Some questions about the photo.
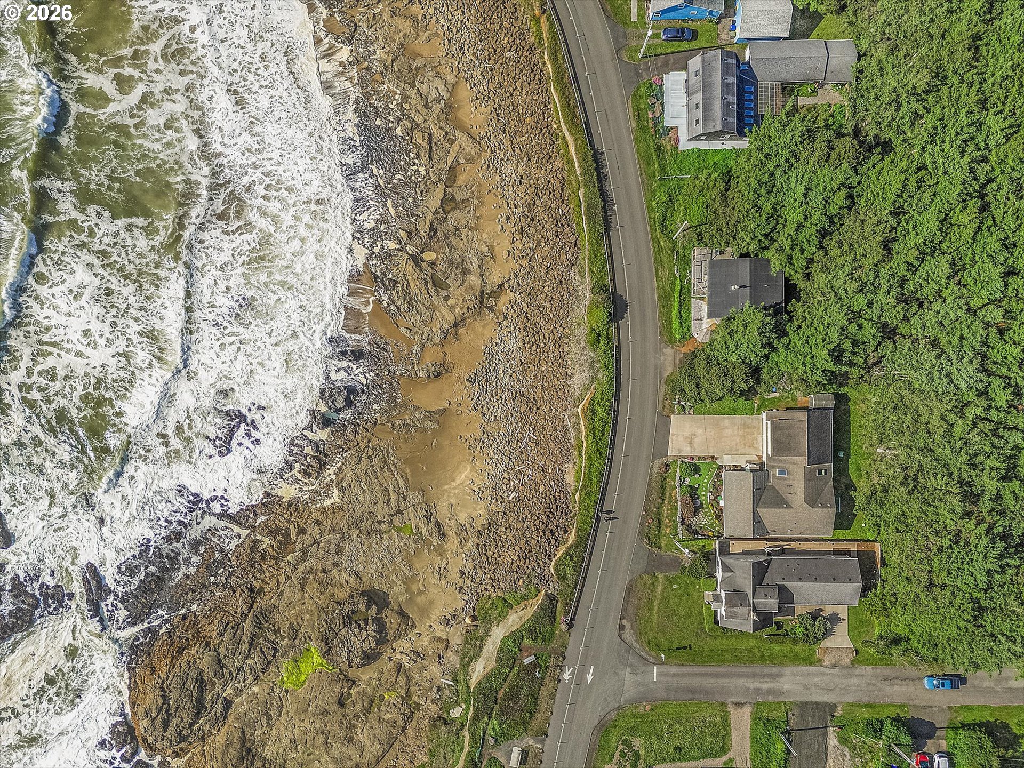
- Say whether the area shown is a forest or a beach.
beach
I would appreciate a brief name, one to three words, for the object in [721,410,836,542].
house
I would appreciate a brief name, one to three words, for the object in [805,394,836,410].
greenhouse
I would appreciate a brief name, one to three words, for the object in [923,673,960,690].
vehicle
